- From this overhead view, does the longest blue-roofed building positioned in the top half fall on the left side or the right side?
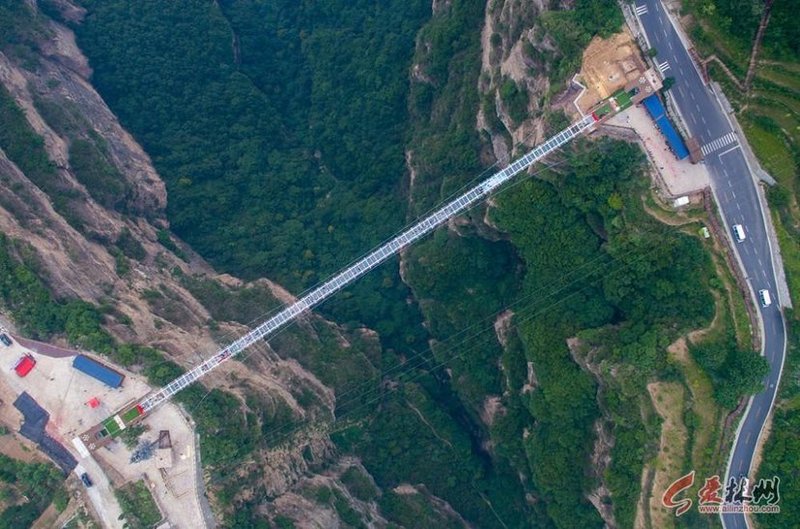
right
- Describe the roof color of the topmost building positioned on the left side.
blue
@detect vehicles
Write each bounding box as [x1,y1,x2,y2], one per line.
[737,477,748,498]
[0,333,15,346]
[81,470,94,488]
[732,223,744,242]
[759,288,770,307]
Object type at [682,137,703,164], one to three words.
building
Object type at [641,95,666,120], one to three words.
building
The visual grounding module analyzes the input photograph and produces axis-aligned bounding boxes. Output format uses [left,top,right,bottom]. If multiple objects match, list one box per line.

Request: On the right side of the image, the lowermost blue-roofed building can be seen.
[652,115,689,161]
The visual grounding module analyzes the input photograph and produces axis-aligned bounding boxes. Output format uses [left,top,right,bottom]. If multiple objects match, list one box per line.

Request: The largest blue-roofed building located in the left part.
[73,354,128,388]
